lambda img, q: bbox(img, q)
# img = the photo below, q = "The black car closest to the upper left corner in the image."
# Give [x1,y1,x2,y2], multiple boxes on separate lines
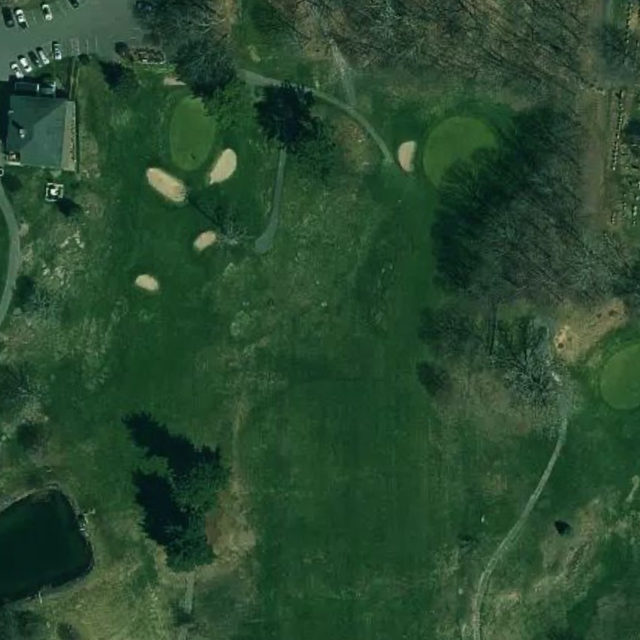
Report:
[1,8,14,27]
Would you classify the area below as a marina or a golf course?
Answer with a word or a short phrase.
golf course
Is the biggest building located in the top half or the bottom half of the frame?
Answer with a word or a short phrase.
top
